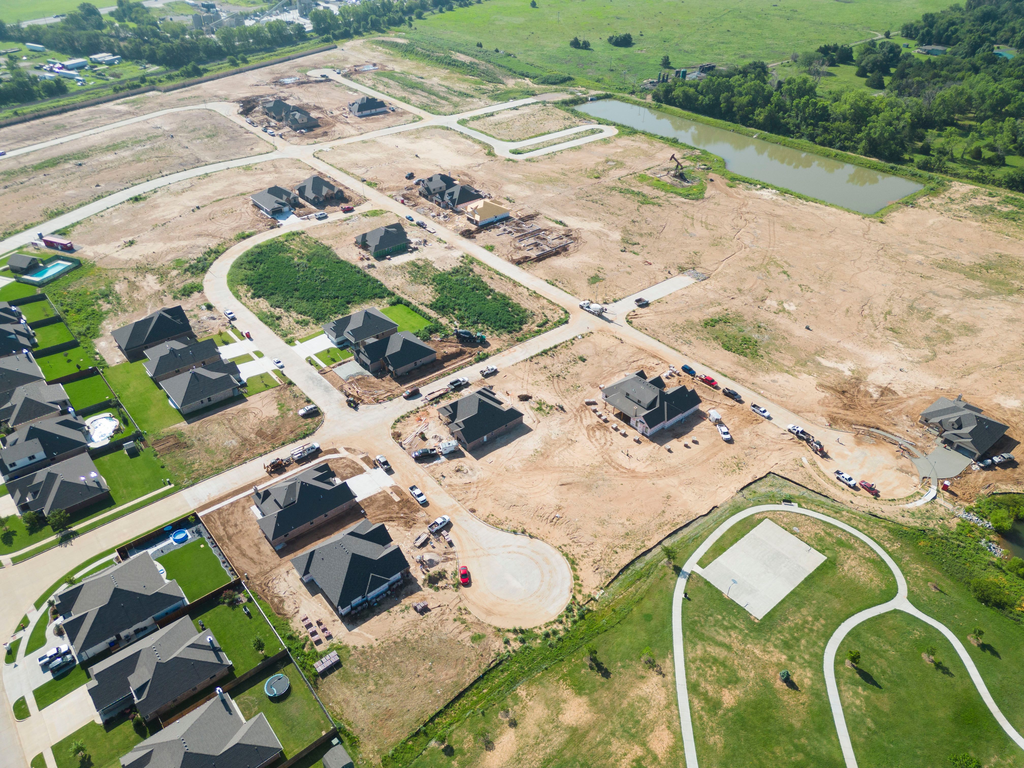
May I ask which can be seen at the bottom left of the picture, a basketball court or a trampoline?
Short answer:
trampoline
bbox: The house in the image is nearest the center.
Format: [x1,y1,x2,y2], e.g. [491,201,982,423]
[433,386,525,451]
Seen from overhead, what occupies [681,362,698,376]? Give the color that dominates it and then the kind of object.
blue car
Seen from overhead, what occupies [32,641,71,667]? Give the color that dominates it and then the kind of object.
white truck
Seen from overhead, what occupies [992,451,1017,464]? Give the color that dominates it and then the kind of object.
gray vehicle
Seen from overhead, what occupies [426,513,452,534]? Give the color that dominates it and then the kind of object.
white truck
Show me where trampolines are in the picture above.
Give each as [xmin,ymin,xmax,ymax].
[262,672,290,698]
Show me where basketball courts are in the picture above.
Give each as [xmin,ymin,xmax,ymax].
[693,519,827,620]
